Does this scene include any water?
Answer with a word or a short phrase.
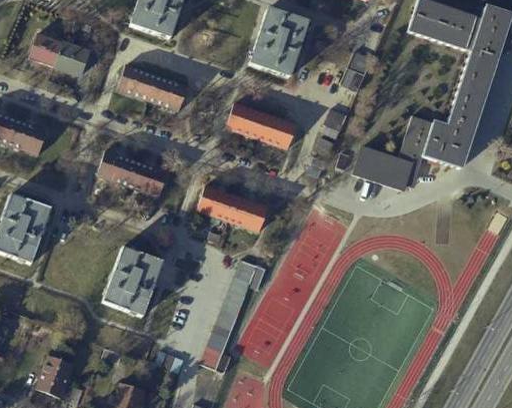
No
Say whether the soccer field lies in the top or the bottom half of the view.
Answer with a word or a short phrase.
bottom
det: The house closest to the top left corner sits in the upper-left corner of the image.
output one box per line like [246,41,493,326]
[31,38,91,80]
